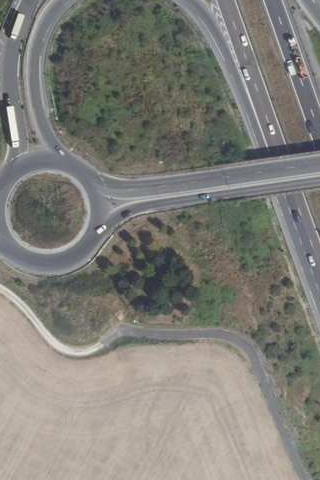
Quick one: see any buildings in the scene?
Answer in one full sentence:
No, the picture doesn't show any building.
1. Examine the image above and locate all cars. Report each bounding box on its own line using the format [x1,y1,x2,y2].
[307,254,315,266]
[239,32,246,44]
[120,210,132,218]
[56,144,65,154]
[4,93,8,104]
[242,66,250,80]
[267,122,274,134]
[199,194,210,199]
[96,224,106,233]
[292,210,300,221]
[306,121,314,132]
